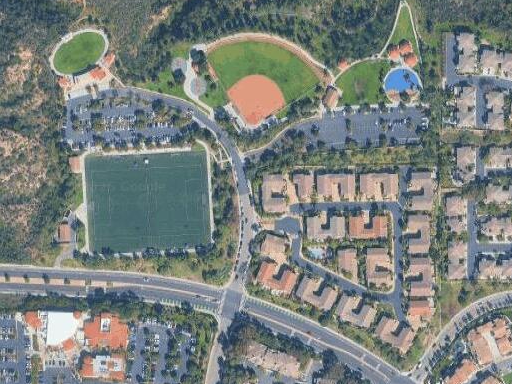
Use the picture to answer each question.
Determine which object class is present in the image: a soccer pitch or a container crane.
soccer pitch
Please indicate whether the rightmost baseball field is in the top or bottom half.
top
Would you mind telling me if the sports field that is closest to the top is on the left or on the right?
left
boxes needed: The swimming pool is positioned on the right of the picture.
[306,244,326,259]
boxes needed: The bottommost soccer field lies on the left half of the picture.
[84,151,212,252]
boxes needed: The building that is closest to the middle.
[262,173,287,214]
